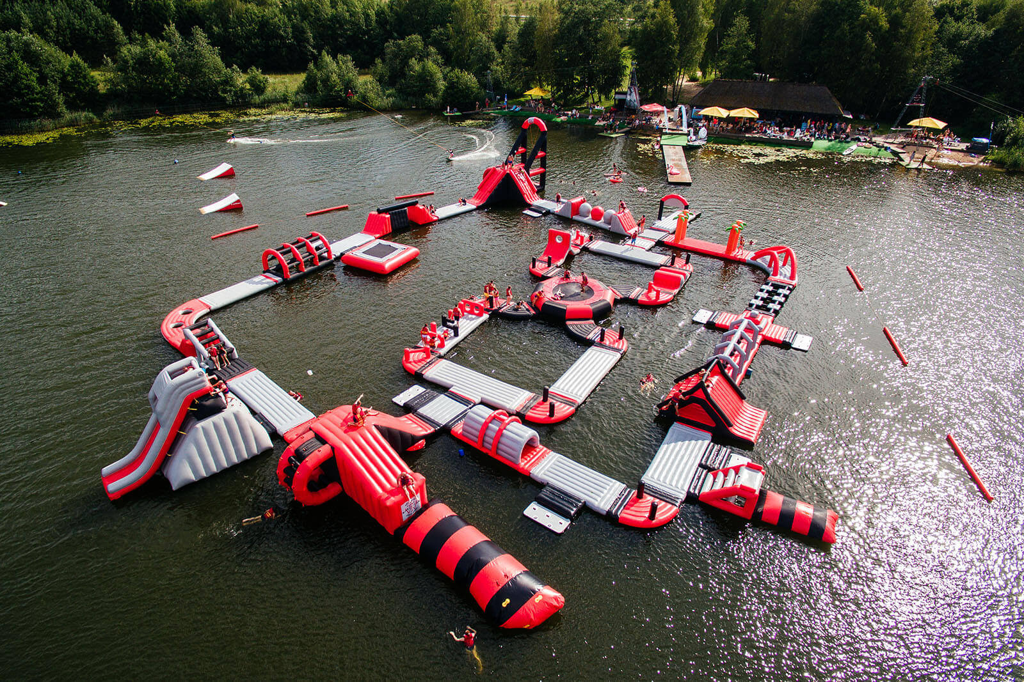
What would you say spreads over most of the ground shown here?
water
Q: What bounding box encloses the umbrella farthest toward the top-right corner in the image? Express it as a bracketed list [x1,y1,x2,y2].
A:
[906,117,963,131]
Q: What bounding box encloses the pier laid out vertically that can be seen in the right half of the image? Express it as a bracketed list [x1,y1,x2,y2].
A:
[661,131,692,188]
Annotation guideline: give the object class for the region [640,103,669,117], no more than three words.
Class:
umbrella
